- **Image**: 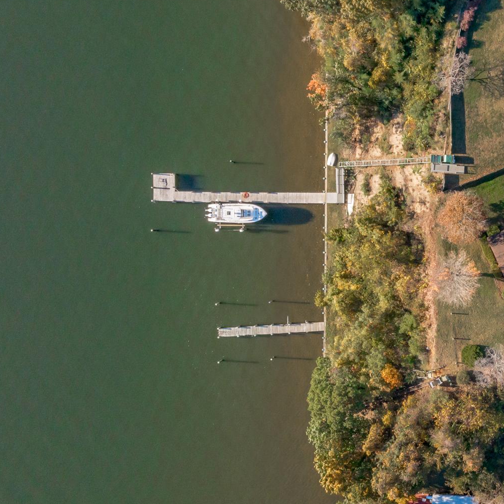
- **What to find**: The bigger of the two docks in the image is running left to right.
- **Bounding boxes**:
[151,167,345,204]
